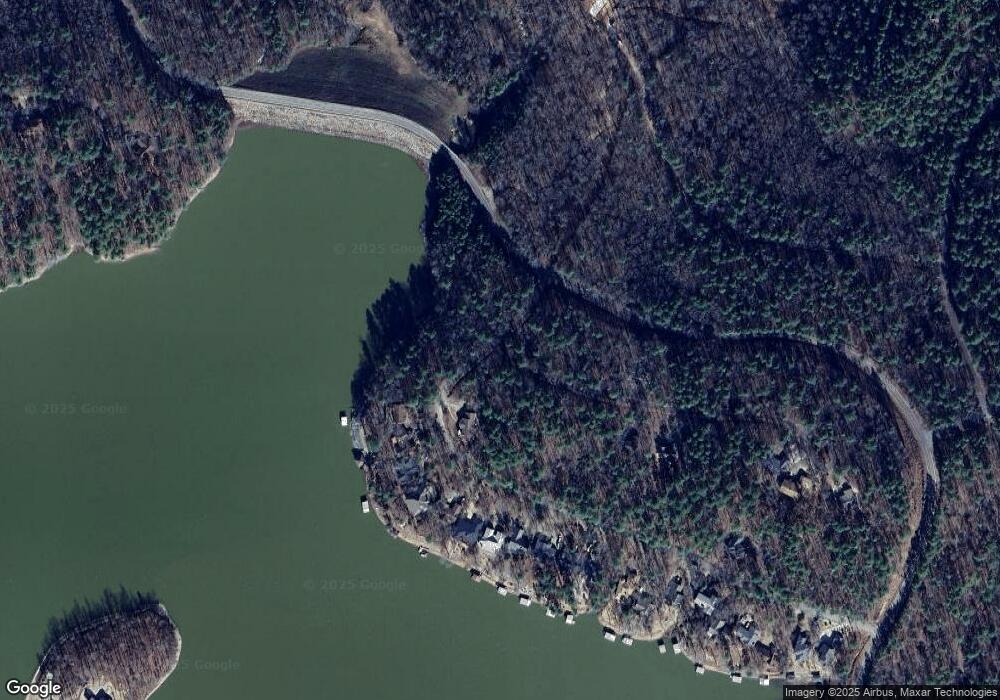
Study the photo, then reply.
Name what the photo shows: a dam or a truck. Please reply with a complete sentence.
The image shows a dam.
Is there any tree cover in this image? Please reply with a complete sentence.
Yes, there's tree cover in this view.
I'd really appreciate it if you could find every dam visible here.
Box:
[219,44,466,168]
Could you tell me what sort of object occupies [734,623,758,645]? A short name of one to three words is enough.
house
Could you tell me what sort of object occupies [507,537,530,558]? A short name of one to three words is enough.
house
